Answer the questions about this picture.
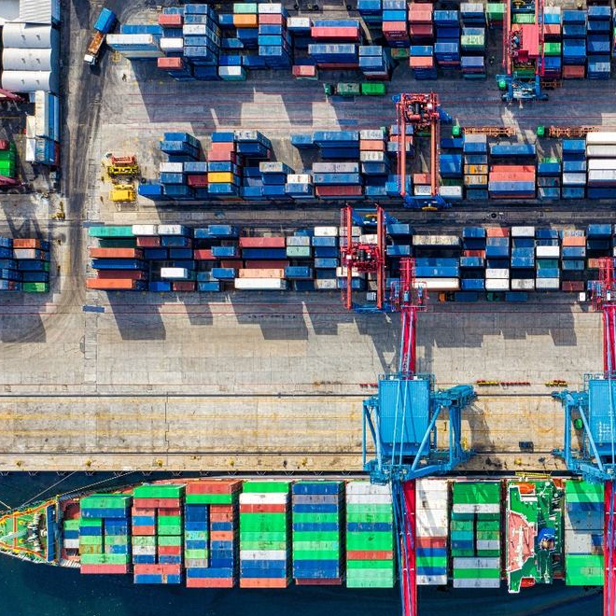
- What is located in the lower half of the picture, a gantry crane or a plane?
gantry crane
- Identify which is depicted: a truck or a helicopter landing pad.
truck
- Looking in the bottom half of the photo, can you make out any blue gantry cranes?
Yes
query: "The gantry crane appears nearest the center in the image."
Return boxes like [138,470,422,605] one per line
[342,202,406,316]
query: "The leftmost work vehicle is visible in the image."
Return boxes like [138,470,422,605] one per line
[54,203,66,219]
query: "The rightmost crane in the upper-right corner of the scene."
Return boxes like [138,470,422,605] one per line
[502,0,547,104]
